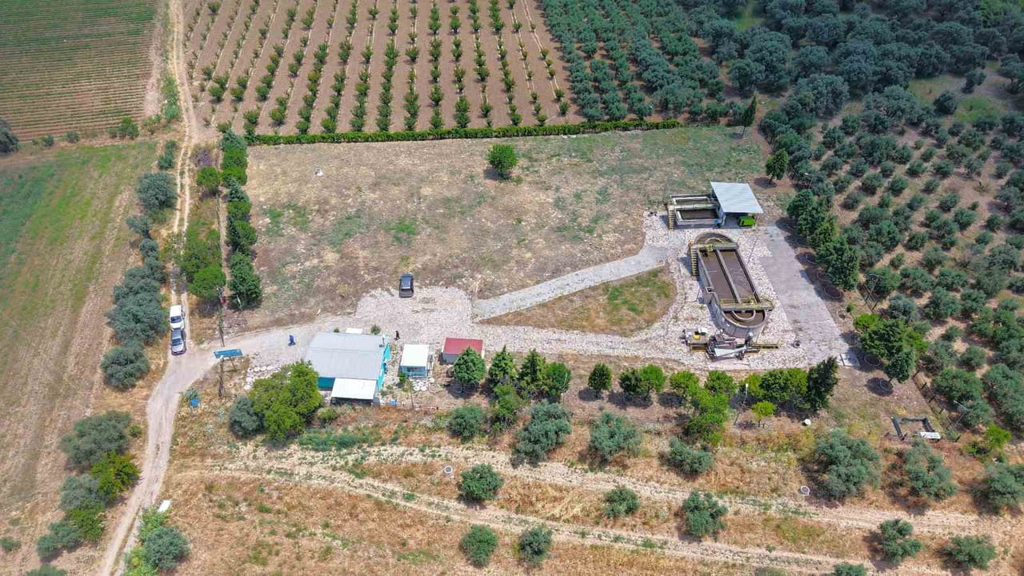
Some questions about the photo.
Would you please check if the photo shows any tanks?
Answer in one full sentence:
Yes, the frame does contain a tank.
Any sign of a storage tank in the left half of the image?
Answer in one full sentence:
No, there is no storage tank in the left half of the image.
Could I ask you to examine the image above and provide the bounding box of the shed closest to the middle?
[443,335,485,365]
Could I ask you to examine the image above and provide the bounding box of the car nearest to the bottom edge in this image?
[168,329,186,356]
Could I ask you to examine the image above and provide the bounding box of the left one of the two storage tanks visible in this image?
[664,195,721,232]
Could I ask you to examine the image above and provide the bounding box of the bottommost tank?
[690,233,777,342]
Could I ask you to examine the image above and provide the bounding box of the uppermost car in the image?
[399,275,414,298]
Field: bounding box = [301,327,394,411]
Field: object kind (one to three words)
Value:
house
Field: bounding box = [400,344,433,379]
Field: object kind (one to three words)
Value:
building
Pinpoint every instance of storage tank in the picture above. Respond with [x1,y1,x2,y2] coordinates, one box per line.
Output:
[664,195,721,232]
[690,233,777,342]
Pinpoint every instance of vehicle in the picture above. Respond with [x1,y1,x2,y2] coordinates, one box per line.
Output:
[167,300,185,330]
[168,329,186,356]
[399,275,414,298]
